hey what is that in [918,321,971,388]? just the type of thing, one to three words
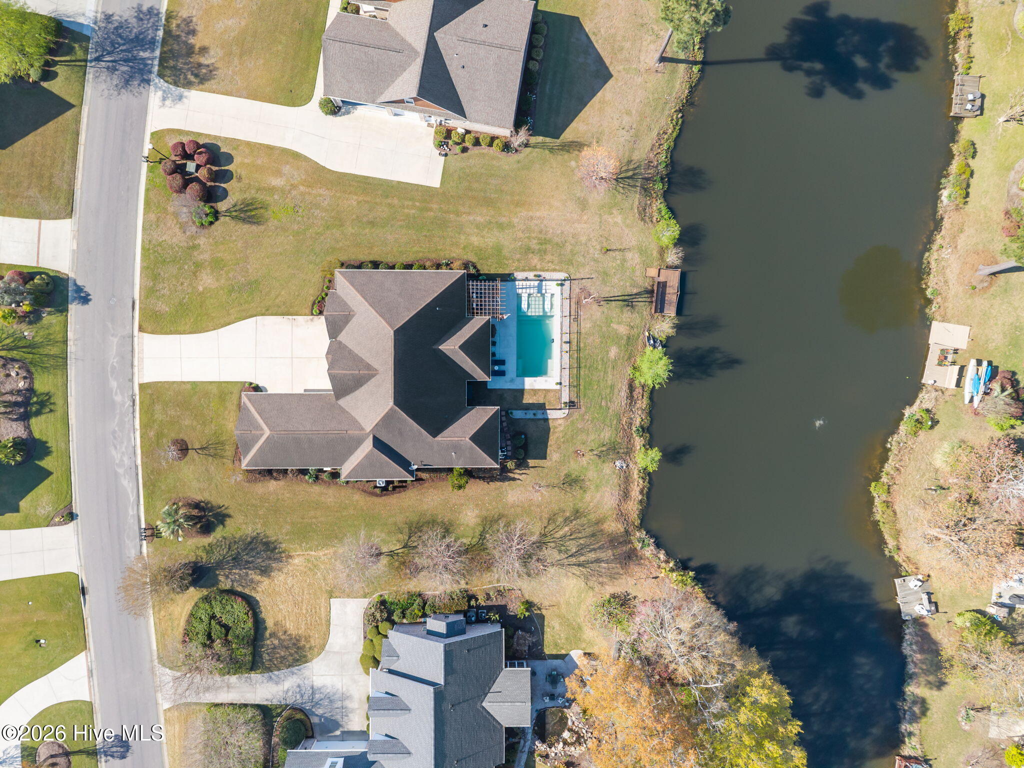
pier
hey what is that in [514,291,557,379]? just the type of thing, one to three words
swimming pool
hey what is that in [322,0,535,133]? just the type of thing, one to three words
house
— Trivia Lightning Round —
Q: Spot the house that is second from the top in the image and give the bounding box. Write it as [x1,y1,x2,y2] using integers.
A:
[232,270,500,481]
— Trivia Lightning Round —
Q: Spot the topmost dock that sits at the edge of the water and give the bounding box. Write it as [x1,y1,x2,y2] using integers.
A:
[945,75,982,119]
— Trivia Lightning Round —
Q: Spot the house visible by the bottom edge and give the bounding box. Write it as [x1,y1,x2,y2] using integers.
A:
[284,614,531,768]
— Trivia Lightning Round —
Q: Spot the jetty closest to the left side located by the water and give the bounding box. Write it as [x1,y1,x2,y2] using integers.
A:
[646,268,681,316]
